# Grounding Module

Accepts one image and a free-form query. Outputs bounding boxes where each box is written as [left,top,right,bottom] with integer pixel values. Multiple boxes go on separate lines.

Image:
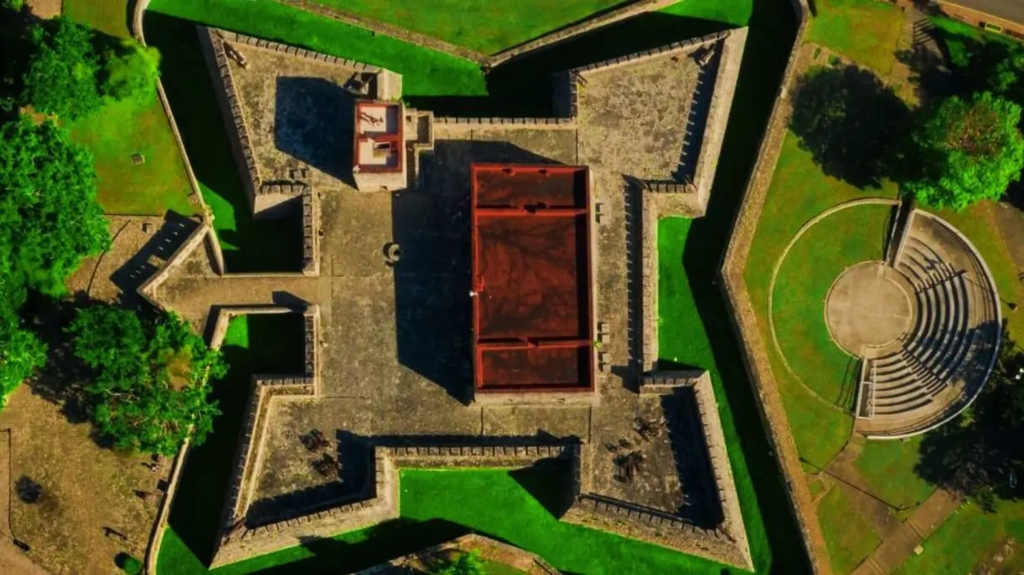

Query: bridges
[214,273,332,322]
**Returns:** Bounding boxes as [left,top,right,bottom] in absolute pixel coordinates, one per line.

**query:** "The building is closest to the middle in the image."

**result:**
[469,165,599,406]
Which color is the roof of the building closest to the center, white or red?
red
